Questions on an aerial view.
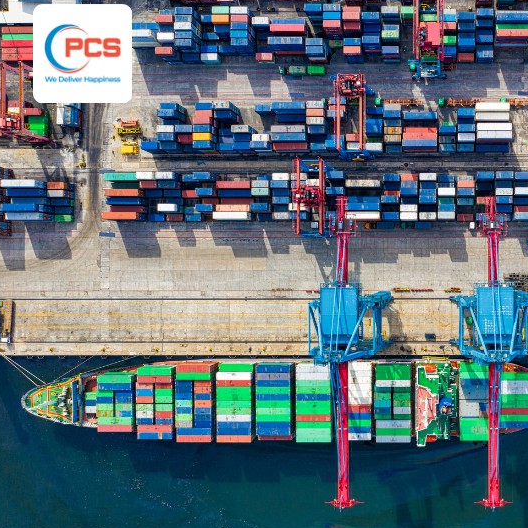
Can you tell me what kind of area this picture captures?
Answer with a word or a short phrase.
port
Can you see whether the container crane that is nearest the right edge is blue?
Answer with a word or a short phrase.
Yes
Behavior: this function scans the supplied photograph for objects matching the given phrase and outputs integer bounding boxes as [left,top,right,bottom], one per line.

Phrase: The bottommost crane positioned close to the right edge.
[449,191,528,514]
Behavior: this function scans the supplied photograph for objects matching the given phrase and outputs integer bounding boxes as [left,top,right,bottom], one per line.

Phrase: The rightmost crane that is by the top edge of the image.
[409,0,450,77]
